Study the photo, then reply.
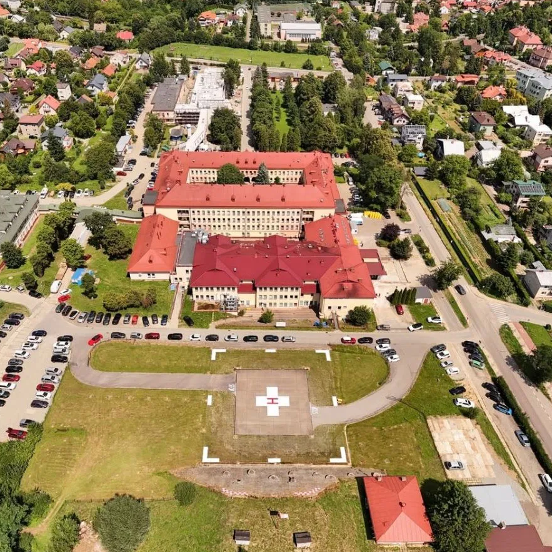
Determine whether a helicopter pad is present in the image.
Yes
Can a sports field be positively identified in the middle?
No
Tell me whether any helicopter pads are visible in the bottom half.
Yes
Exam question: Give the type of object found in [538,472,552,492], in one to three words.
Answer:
car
